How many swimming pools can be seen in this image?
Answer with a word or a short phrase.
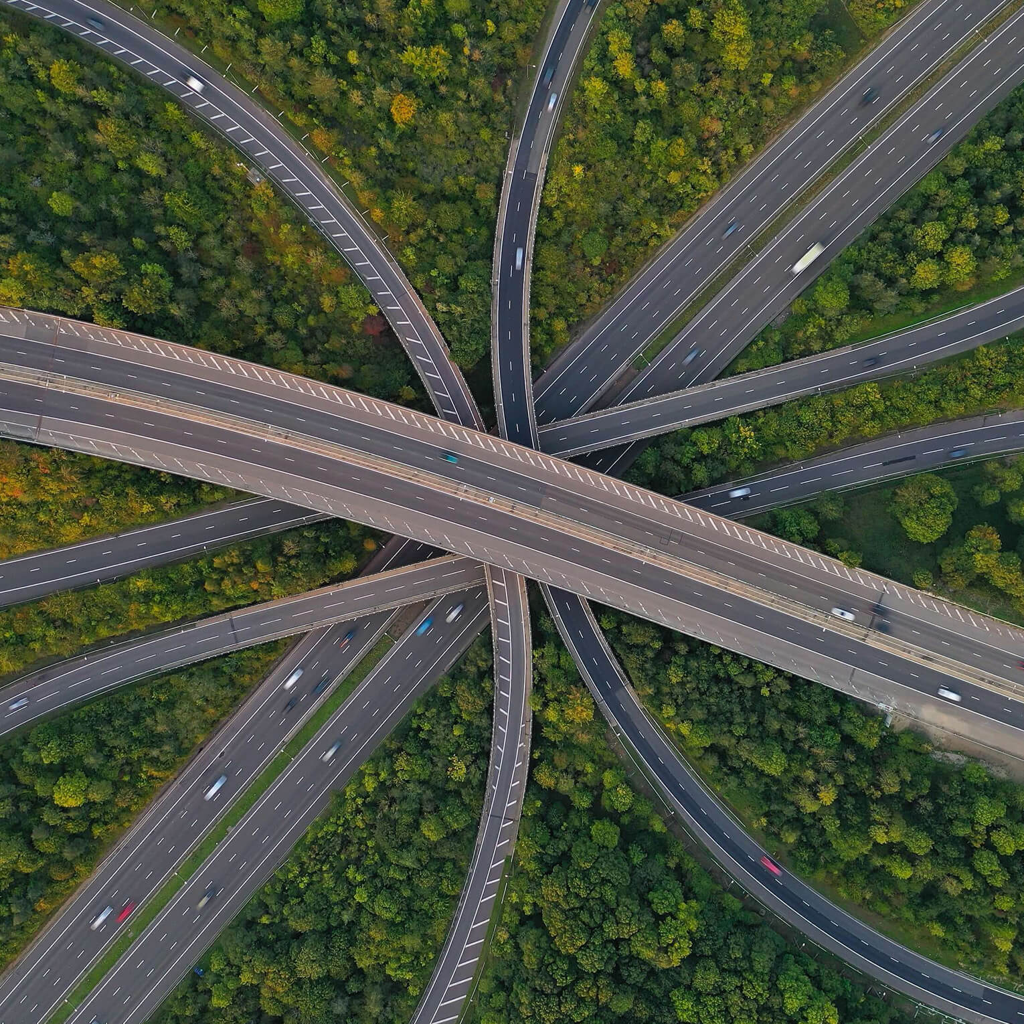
0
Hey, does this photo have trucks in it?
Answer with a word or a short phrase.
Yes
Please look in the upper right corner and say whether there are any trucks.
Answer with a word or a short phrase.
Yes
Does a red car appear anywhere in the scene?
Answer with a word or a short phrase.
Yes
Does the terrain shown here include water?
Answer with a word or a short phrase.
No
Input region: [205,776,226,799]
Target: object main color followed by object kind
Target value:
white vehicle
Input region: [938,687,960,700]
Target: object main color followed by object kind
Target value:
white vehicle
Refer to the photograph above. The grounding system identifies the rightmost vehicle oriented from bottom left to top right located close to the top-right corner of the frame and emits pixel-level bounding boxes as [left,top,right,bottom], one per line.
[926,129,943,145]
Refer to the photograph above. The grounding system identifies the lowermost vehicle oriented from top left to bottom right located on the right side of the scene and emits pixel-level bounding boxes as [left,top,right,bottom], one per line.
[761,856,780,873]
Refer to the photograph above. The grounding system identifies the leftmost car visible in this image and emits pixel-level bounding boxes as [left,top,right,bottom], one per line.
[10,696,29,709]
